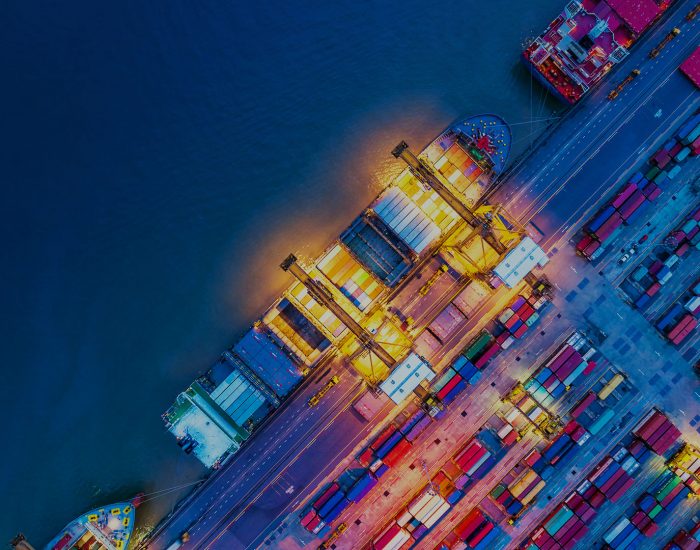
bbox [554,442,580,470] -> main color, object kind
blue shipping container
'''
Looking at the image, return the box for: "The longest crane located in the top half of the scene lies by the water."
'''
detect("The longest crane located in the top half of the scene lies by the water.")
[389,135,556,292]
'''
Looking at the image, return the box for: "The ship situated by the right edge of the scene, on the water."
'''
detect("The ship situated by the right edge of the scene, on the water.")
[522,0,675,103]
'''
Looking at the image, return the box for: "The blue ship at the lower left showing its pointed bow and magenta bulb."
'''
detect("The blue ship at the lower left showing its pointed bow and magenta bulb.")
[41,492,145,550]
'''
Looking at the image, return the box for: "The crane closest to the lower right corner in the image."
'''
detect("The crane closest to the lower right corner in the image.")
[651,441,700,499]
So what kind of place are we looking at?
port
